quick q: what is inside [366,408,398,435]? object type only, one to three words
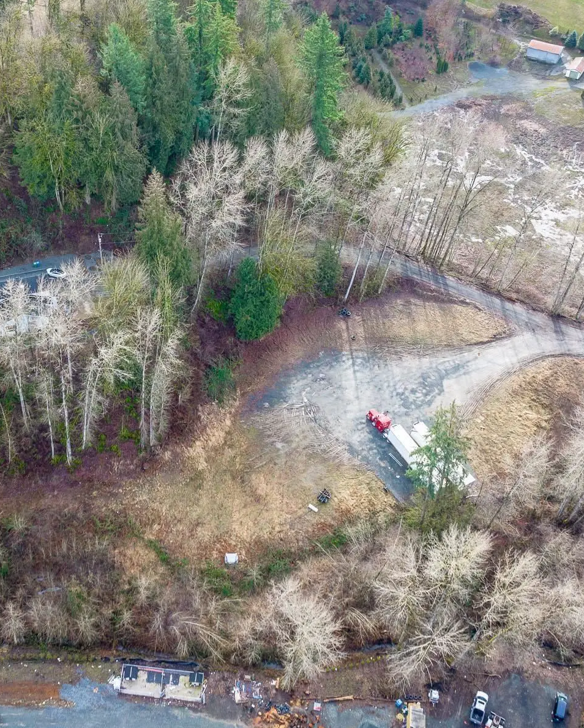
truck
